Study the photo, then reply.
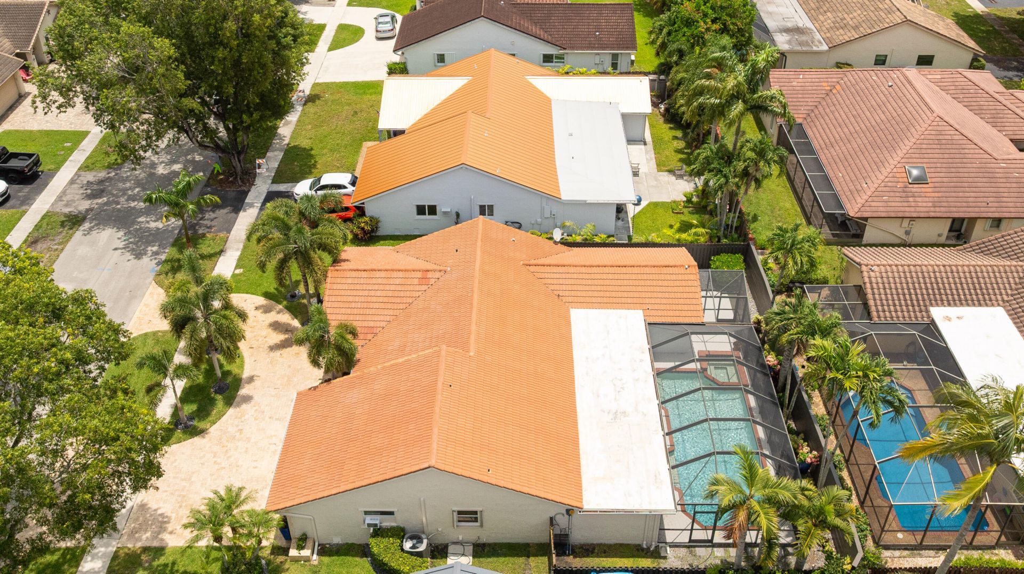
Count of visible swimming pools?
2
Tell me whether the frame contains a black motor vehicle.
Yes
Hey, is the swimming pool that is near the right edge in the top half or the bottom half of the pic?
bottom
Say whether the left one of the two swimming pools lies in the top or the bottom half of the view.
bottom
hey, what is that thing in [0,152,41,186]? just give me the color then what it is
black truck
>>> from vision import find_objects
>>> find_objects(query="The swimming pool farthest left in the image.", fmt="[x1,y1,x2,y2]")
[656,348,779,528]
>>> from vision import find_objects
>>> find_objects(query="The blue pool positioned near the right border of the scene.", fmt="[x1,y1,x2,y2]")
[836,379,993,539]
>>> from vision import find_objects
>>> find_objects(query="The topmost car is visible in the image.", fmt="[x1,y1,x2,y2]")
[377,12,400,34]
